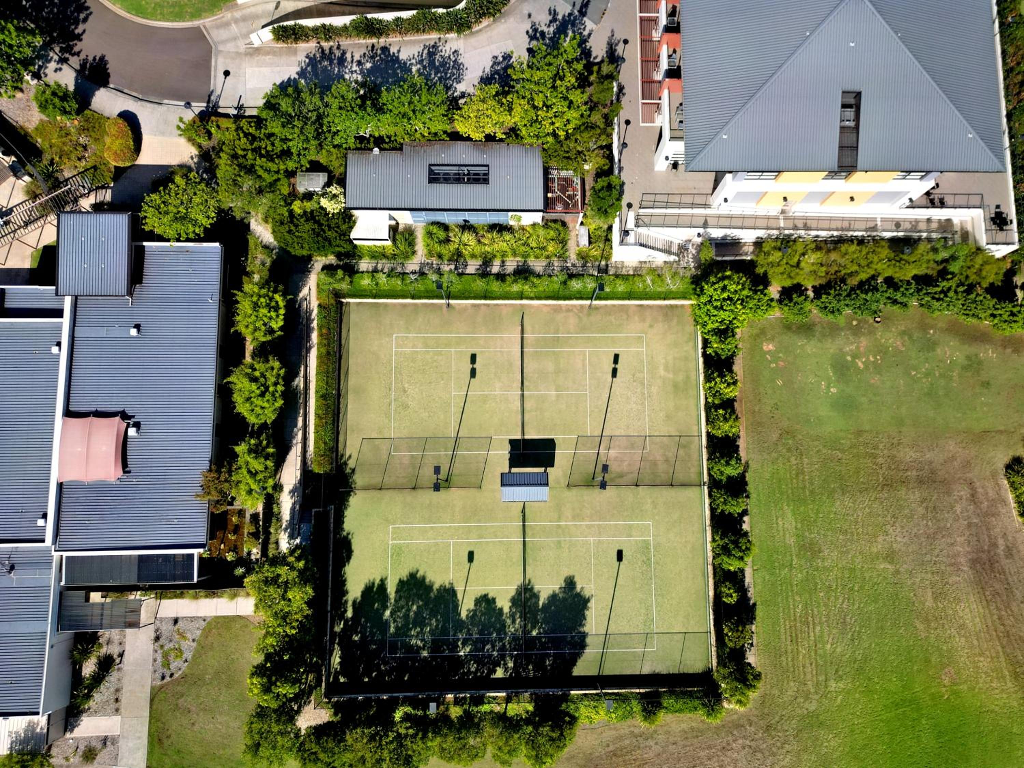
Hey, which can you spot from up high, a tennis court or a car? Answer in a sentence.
The image shows a tennis court.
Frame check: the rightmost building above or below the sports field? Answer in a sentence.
Relative to the sports field, the rightmost building lies above it.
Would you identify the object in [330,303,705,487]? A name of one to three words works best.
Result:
tennis court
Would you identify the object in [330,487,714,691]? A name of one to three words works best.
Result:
tennis court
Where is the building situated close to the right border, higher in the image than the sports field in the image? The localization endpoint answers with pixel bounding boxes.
[649,0,1006,216]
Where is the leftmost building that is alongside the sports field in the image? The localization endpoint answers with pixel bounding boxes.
[0,210,231,768]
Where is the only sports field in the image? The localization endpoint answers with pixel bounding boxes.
[327,302,1024,768]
